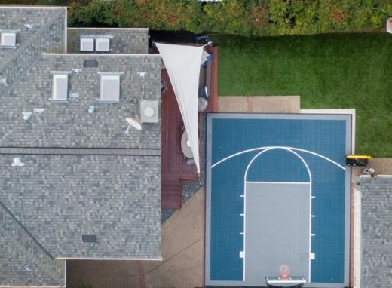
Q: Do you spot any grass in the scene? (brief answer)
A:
Yes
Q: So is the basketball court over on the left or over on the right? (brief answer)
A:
right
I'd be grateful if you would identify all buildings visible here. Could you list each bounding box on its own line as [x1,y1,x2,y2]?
[354,174,392,288]
[0,4,162,288]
